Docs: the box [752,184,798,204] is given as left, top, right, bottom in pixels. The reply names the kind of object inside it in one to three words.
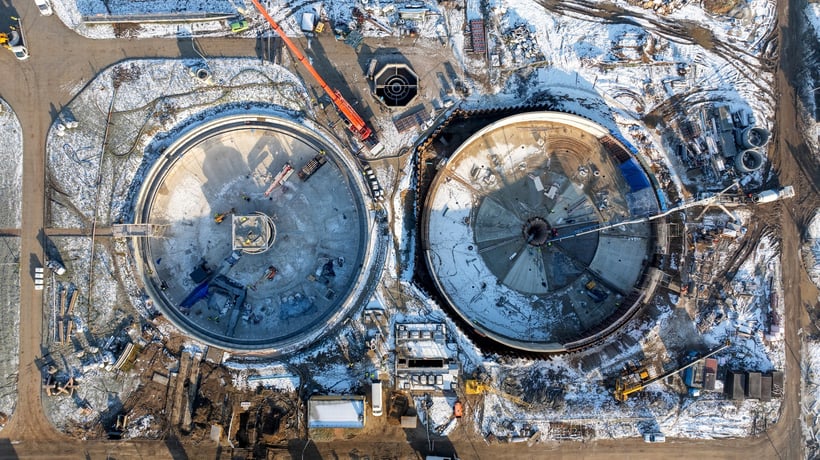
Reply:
vehicle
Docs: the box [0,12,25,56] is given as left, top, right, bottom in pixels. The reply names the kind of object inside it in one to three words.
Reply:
truck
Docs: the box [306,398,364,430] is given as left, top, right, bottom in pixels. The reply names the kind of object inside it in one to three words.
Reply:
shed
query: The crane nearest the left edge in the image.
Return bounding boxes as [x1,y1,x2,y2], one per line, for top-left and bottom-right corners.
[254,0,394,159]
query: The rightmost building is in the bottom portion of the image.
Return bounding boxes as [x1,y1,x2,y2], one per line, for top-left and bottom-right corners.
[396,323,462,393]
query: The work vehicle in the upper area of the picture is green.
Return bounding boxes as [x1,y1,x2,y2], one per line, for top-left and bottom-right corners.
[229,17,248,31]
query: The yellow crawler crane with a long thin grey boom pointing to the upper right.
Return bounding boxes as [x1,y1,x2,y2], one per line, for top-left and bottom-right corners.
[615,345,730,398]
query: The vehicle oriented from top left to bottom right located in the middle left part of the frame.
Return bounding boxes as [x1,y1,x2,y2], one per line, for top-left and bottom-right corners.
[37,253,66,279]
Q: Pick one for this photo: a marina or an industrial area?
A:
industrial area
